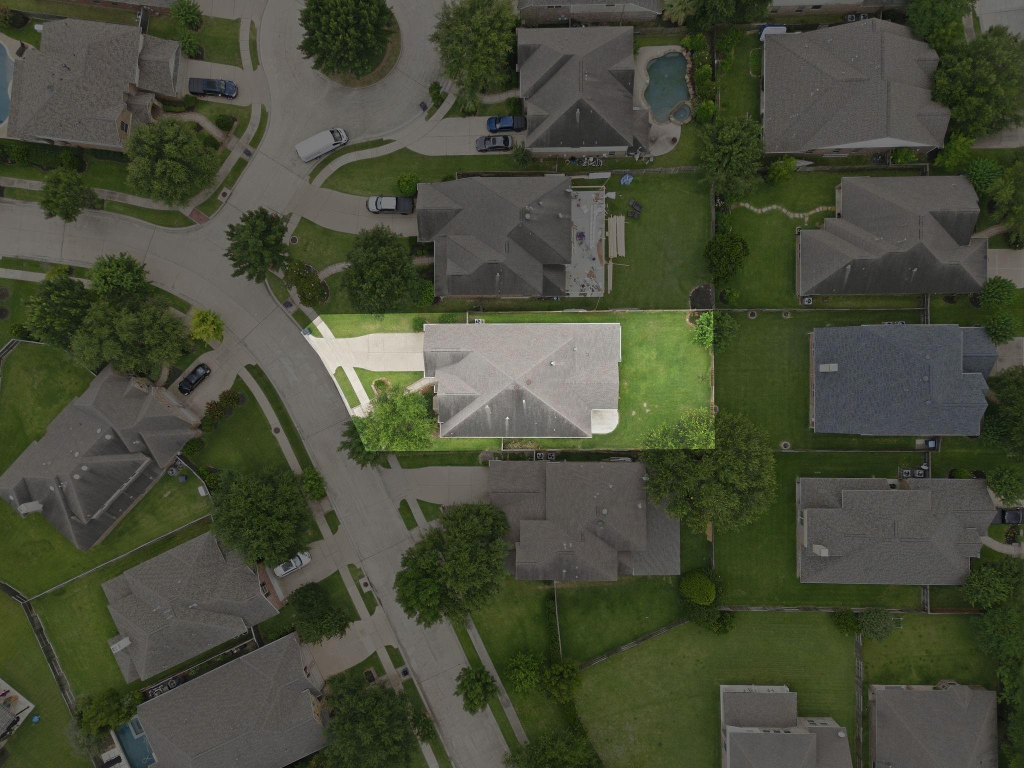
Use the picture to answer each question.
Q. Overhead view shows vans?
Yes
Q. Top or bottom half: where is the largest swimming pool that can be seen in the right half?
top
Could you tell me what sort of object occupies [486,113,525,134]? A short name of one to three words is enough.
truck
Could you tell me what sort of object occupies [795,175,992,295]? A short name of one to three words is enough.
house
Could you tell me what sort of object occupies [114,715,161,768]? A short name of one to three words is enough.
swimming pool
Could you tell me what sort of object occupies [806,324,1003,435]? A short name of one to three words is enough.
house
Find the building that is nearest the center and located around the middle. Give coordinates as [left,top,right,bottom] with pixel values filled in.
[421,322,621,438]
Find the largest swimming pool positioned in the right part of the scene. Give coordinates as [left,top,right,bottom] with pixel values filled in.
[641,49,692,125]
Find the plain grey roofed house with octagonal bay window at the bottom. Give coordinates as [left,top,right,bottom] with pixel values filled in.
[868,680,997,768]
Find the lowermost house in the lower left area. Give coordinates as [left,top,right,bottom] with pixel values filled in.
[137,630,333,768]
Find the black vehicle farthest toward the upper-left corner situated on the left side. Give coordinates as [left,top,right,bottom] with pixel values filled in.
[187,78,238,100]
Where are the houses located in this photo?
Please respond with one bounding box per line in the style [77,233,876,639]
[868,680,997,768]
[415,174,572,297]
[516,22,651,159]
[717,685,851,768]
[795,175,992,295]
[137,630,333,768]
[6,21,186,150]
[101,535,283,684]
[806,324,1003,435]
[758,17,957,157]
[488,460,681,582]
[793,477,1002,585]
[0,367,201,552]
[421,322,621,438]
